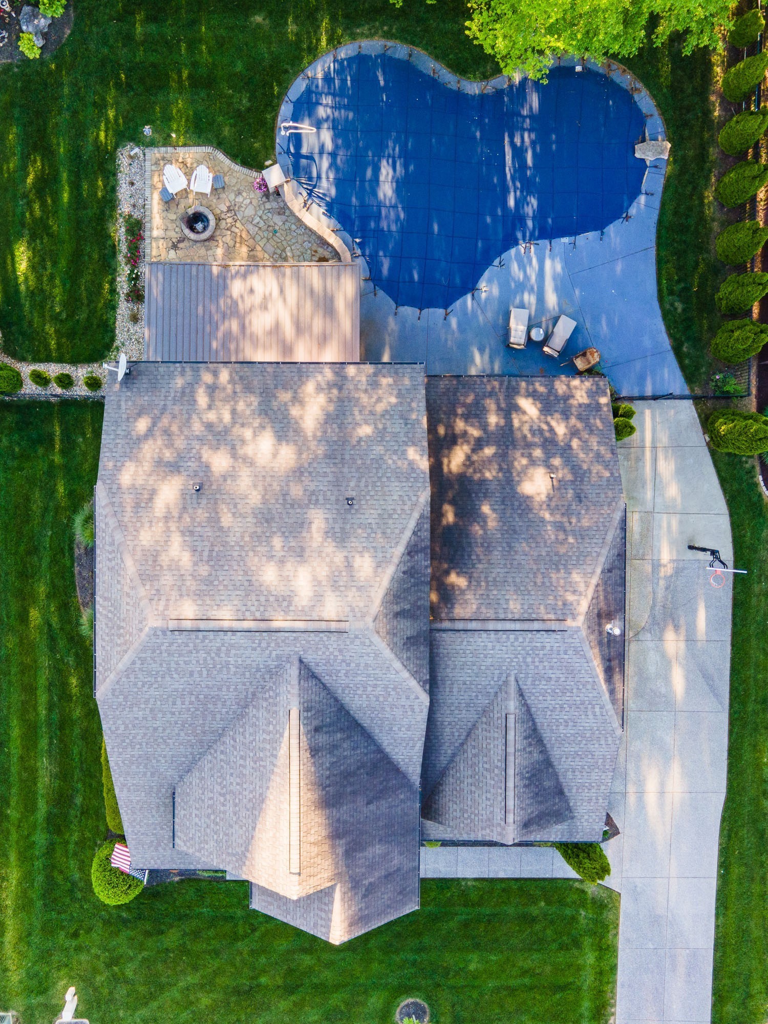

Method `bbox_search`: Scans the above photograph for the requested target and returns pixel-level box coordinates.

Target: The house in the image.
[93,361,629,944]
